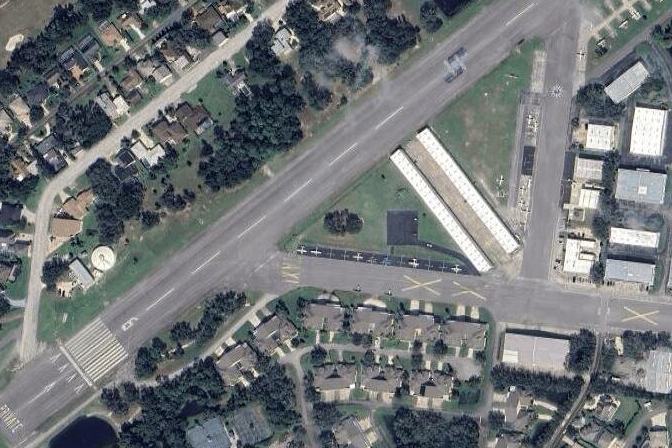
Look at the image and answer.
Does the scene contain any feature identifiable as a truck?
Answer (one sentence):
No, the picture doesn't show any truck.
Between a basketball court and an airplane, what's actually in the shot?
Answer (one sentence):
The one in the frame is an airplane.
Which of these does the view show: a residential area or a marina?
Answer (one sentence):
The picture captures a residential area.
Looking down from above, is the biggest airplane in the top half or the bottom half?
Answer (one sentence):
The biggest airplane is in the top half of the image.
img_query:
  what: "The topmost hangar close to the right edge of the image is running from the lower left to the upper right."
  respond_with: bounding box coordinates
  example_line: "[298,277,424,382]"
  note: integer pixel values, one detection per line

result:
[606,61,652,103]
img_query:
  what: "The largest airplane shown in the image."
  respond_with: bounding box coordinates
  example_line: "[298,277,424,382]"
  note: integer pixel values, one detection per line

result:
[442,45,469,85]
